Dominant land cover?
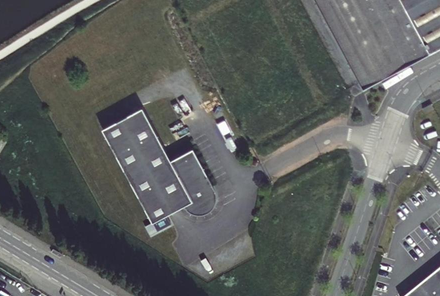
grass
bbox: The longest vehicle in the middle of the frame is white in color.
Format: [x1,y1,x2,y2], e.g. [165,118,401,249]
[217,120,234,146]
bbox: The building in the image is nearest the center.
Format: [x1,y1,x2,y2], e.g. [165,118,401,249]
[171,151,216,216]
